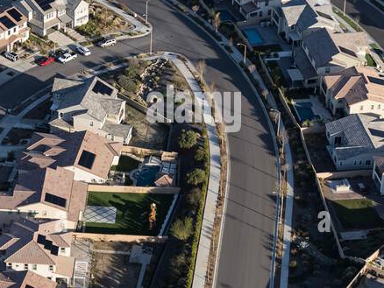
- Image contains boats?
No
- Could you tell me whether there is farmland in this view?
No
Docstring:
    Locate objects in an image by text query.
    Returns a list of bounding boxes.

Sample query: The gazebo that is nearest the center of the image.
[151,173,176,193]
